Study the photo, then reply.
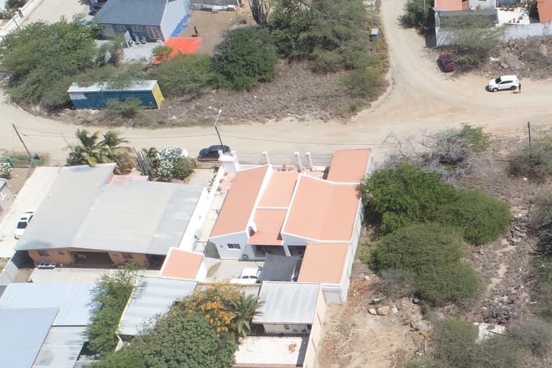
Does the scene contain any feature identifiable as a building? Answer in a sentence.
Yes, the picture does show a building.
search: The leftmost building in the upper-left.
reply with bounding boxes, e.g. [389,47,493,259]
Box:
[94,0,190,42]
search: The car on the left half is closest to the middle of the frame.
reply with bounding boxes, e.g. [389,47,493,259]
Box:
[195,142,233,161]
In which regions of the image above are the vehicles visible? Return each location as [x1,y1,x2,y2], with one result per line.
[195,142,233,161]
[219,267,271,288]
[86,0,104,15]
[438,53,456,74]
[9,212,37,241]
[486,74,519,93]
